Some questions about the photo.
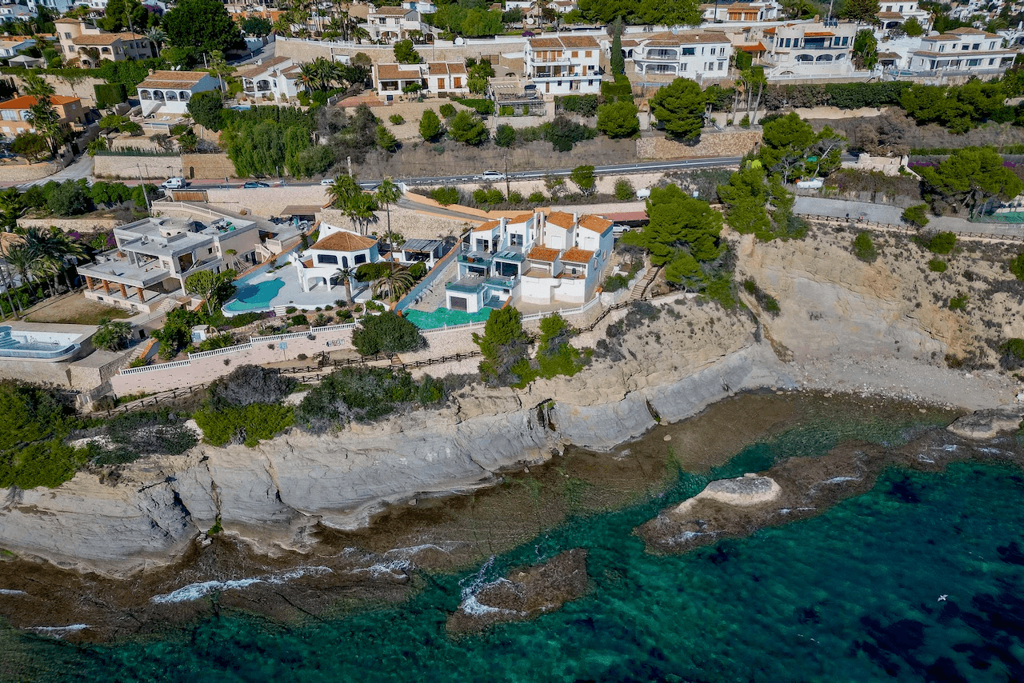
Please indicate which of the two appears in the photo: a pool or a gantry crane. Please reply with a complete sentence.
Visible in the photo is a pool.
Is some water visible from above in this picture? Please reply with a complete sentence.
Yes, water can be seen from above here.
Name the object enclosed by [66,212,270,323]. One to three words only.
house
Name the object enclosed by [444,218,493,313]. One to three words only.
house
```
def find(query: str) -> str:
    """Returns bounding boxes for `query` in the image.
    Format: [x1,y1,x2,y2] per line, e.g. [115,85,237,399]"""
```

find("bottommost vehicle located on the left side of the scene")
[291,214,311,229]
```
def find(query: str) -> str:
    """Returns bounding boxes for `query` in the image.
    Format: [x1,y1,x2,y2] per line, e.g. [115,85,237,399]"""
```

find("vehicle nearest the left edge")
[159,175,188,188]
